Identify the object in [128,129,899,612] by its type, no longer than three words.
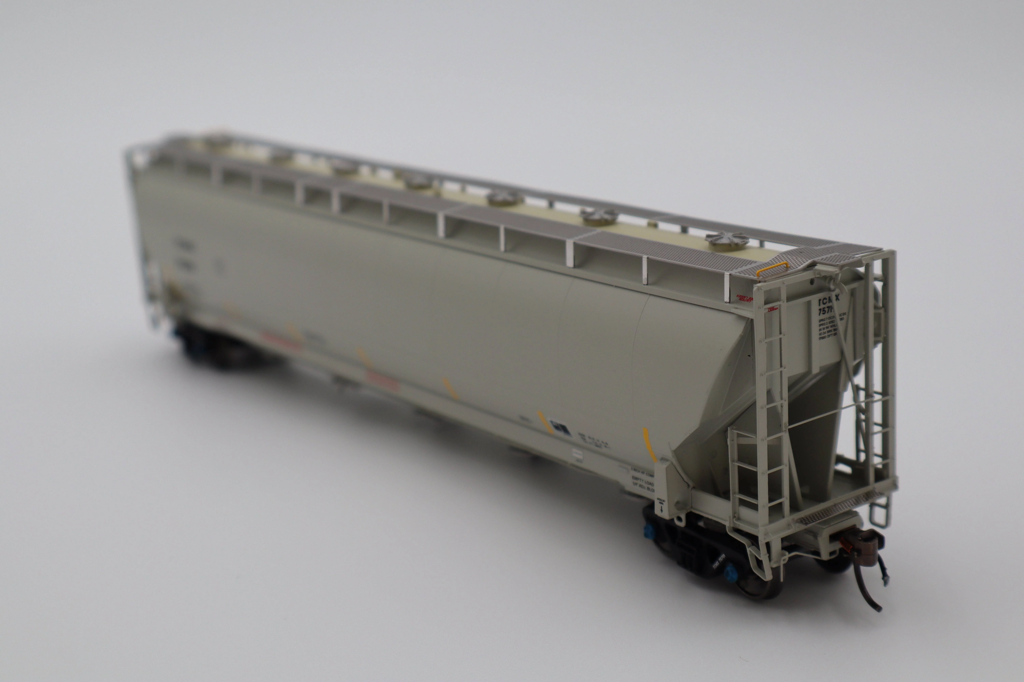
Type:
rail car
